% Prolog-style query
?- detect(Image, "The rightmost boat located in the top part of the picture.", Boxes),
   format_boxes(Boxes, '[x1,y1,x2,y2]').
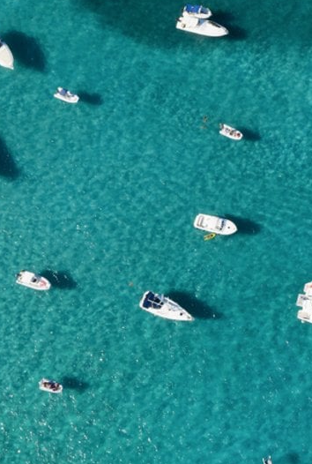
[220,125,243,138]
